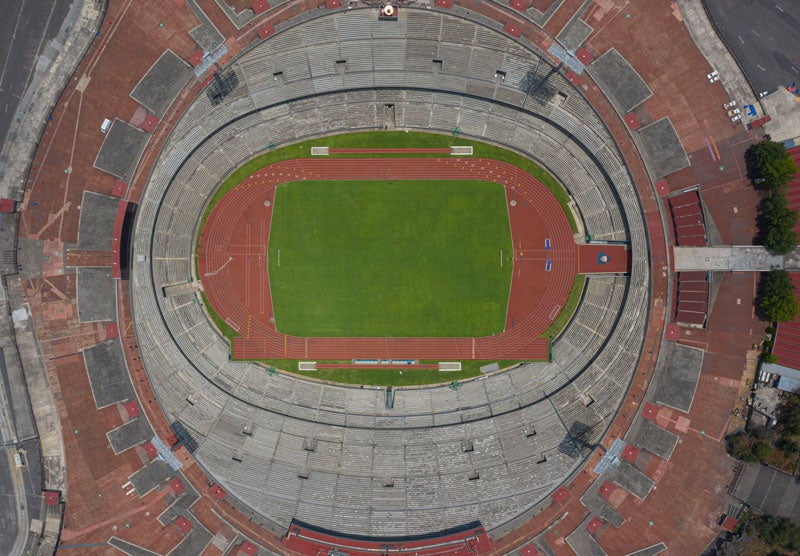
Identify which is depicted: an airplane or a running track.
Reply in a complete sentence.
I can see a running track in this picture.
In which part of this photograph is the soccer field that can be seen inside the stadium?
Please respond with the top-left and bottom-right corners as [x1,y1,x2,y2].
[267,180,513,337]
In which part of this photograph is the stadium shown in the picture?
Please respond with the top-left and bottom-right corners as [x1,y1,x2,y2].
[112,6,652,556]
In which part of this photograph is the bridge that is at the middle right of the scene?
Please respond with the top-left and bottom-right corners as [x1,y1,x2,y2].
[673,246,800,272]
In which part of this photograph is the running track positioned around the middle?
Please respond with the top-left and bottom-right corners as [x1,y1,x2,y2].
[200,159,581,359]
